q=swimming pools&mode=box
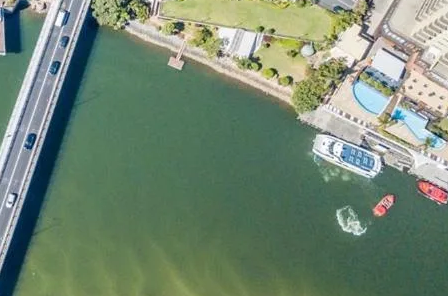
[390,106,447,152]
[352,79,392,117]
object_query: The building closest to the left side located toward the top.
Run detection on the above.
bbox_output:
[217,28,255,60]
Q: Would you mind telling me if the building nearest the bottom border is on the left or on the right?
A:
right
